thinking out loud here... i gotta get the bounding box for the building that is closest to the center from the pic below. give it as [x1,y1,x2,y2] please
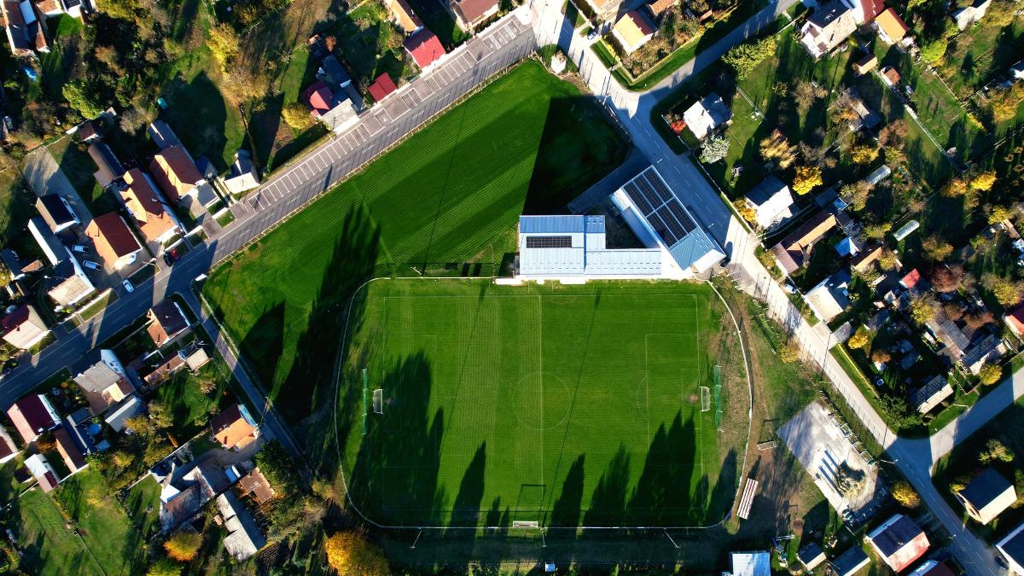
[519,215,662,275]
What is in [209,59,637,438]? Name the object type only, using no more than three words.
sports field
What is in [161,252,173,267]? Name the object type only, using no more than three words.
vehicle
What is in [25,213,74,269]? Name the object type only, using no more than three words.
shed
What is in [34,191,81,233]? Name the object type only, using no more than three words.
house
